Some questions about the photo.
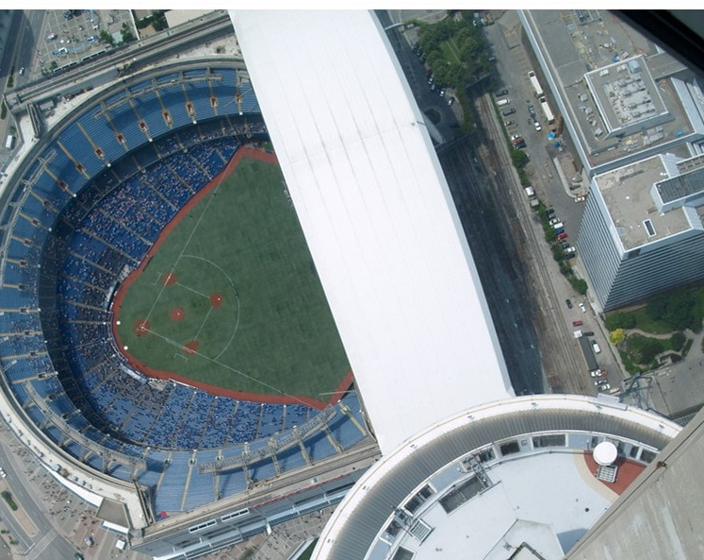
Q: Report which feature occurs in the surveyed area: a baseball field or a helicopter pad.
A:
baseball field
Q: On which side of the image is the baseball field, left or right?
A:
left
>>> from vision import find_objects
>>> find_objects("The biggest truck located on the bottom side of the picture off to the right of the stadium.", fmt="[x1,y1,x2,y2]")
[576,329,600,371]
